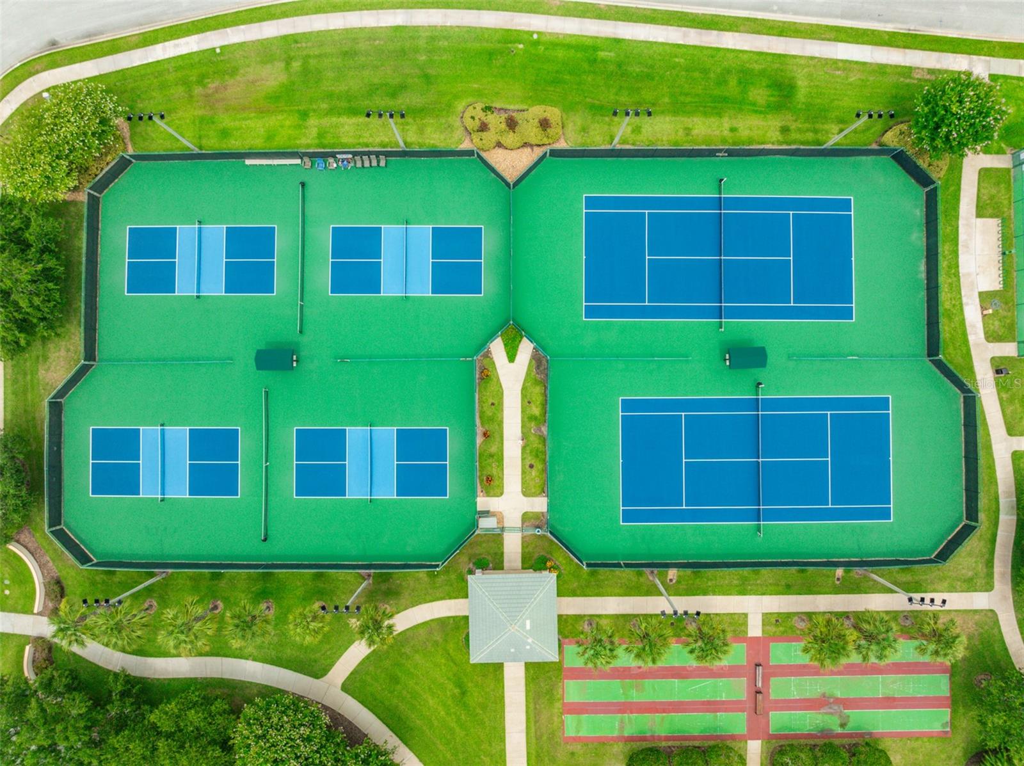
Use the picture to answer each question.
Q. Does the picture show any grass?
Yes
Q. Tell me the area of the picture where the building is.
bottom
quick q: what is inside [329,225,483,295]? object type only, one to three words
sports court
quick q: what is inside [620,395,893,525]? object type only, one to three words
tennis court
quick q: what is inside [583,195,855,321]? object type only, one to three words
tennis court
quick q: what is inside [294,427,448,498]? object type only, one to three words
sports court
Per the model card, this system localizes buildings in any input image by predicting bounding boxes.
[468,567,558,664]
